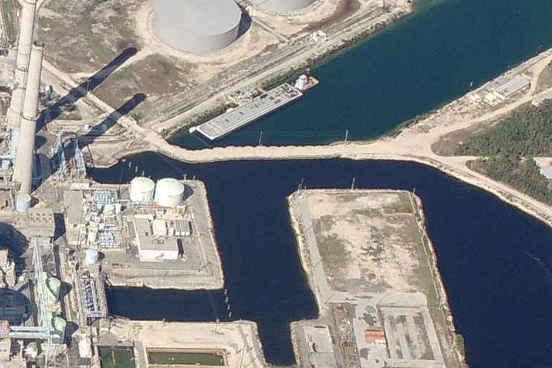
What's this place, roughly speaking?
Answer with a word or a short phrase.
port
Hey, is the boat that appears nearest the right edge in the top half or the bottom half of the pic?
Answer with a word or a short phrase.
top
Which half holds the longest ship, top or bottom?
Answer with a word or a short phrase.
top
